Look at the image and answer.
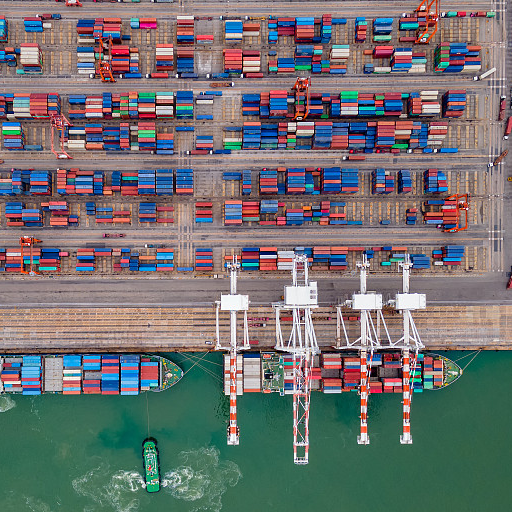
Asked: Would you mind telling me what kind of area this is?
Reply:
port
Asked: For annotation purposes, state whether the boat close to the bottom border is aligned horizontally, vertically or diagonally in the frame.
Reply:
vertically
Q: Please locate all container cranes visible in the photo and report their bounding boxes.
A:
[288,78,309,123]
[371,249,428,446]
[331,249,382,446]
[270,249,321,466]
[98,35,116,83]
[51,116,71,159]
[209,249,250,447]
[20,237,42,276]
[439,194,467,234]
[410,0,438,45]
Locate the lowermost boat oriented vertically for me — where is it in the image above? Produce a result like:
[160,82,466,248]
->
[141,437,161,493]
